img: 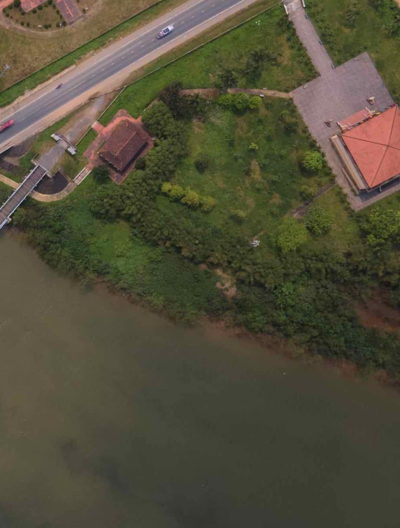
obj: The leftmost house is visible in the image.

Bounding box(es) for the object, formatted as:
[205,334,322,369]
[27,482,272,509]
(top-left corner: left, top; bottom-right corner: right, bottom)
[97,118,150,171]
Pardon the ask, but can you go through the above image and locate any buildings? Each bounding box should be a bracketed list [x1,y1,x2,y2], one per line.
[326,105,400,189]
[97,118,150,171]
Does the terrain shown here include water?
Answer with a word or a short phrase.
Yes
